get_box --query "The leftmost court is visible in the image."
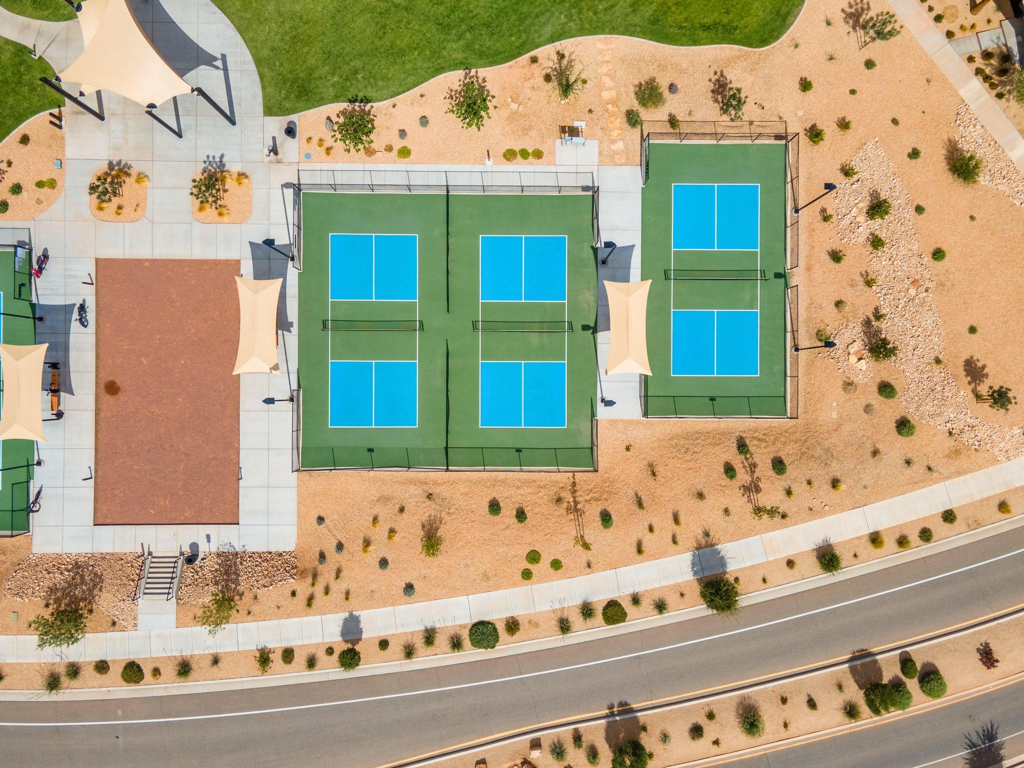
[0,249,36,535]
